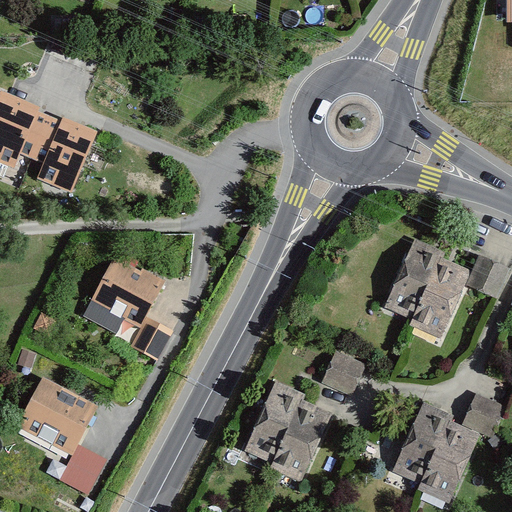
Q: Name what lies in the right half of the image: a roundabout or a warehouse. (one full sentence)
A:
There is a roundabout in the right half of the image.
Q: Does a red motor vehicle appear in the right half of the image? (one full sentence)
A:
No, in the right half of the image there is no red motor vehicle.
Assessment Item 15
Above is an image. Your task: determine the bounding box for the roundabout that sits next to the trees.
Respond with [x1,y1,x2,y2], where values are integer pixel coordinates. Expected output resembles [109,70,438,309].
[290,56,418,188]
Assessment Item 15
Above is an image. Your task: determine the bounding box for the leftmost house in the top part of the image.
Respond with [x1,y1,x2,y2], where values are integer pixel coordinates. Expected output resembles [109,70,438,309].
[0,89,58,168]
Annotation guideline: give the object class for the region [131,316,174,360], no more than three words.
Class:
building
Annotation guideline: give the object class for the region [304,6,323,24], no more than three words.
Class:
swimming pool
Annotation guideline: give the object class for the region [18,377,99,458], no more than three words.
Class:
house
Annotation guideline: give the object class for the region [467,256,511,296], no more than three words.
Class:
building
